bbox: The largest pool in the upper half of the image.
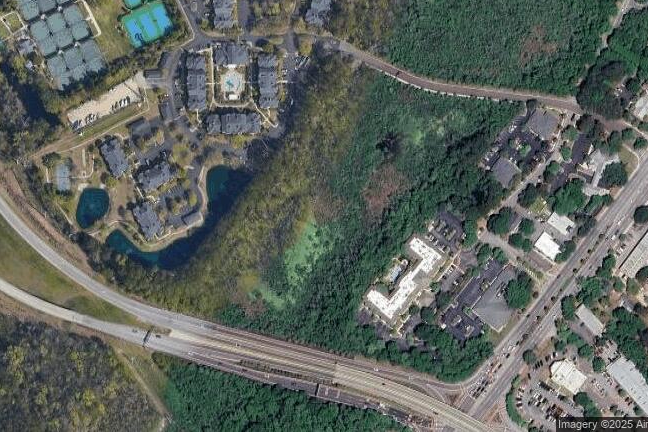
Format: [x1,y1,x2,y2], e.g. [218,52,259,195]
[222,70,245,93]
